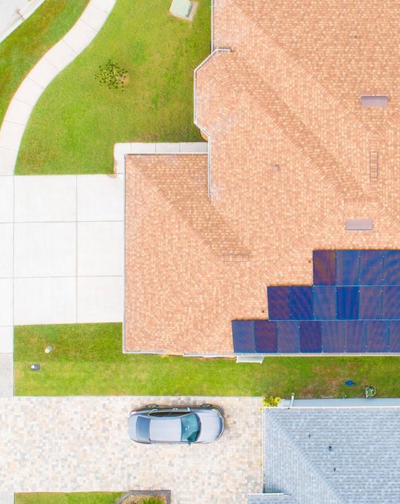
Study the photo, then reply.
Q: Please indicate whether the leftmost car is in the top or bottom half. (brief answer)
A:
bottom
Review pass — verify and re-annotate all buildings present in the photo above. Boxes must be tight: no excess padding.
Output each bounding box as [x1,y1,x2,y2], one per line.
[122,0,400,357]
[247,392,400,504]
